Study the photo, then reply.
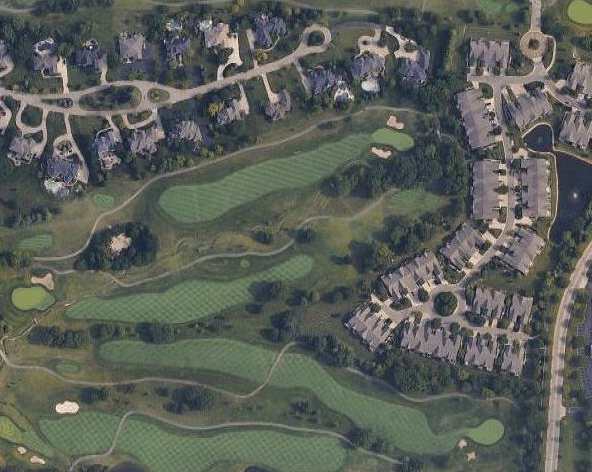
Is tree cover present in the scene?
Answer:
Yes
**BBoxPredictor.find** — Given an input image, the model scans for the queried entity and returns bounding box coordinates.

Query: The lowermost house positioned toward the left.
[42,152,82,183]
